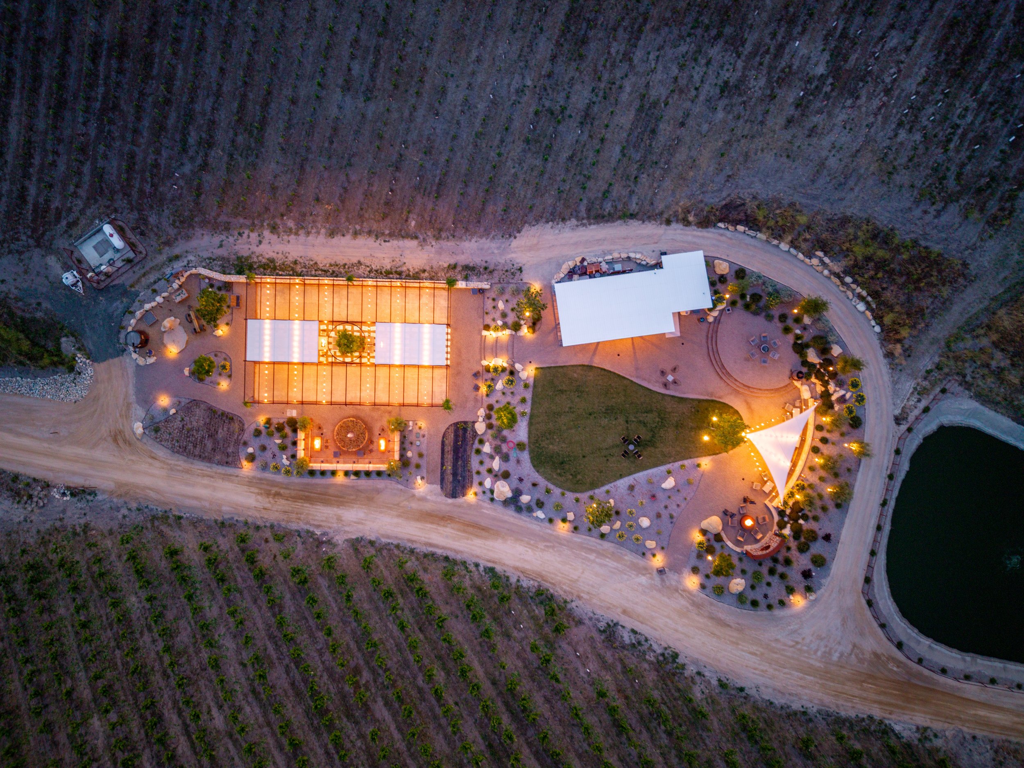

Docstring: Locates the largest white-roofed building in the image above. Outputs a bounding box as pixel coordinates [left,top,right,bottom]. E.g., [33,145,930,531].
[554,250,713,347]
